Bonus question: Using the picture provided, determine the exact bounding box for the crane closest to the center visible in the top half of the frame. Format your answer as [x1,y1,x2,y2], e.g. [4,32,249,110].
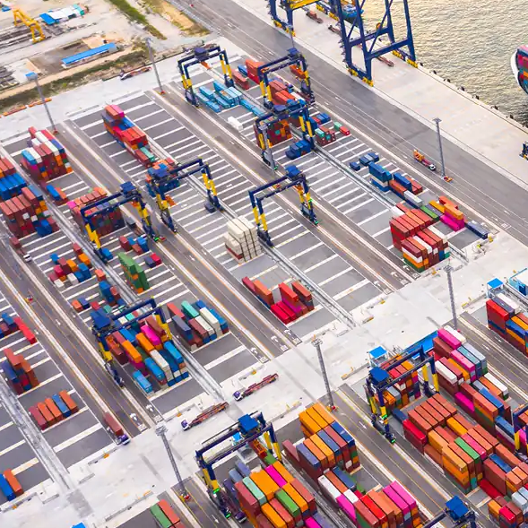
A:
[249,168,315,246]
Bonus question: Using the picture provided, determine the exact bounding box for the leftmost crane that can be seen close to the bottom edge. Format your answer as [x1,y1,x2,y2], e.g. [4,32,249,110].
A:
[202,417,287,519]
